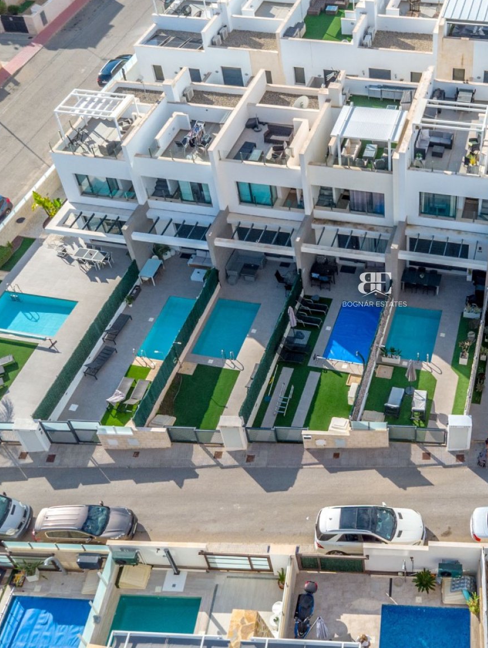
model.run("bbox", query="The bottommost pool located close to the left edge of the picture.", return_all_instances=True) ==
[0,595,96,648]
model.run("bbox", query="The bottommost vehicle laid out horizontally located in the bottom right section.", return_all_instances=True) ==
[314,503,425,556]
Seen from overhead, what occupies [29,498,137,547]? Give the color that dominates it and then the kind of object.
gray car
